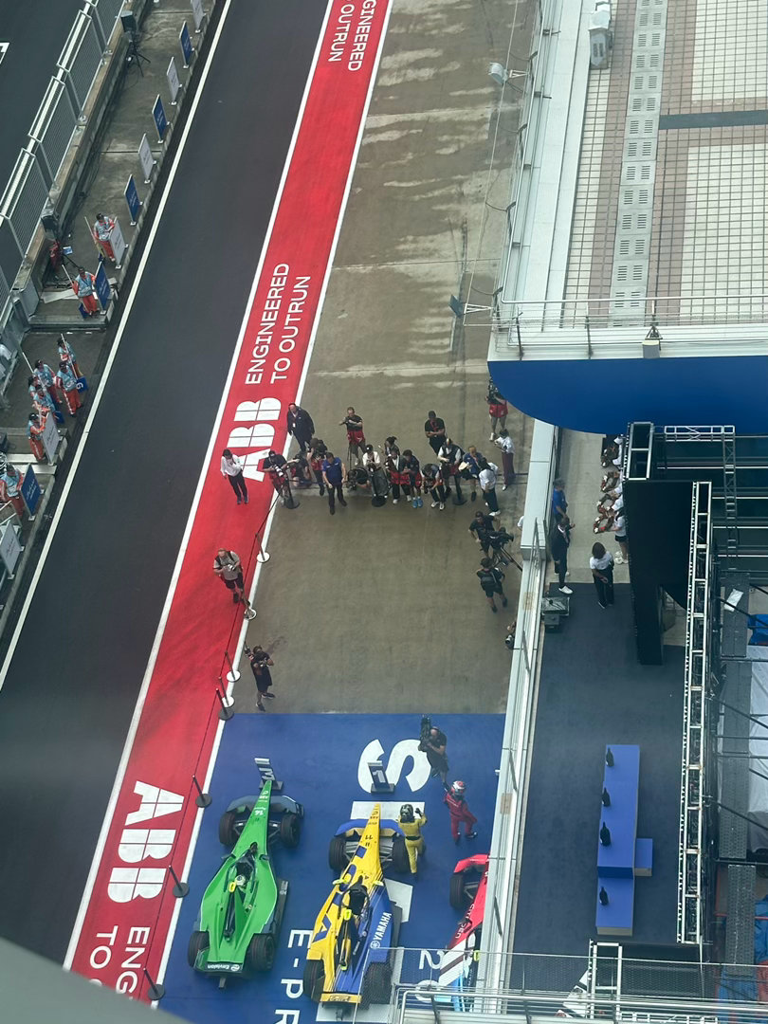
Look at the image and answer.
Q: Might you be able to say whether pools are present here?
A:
No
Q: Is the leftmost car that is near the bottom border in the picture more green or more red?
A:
green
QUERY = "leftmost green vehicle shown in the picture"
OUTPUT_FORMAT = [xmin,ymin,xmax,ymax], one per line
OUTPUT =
[185,779,305,995]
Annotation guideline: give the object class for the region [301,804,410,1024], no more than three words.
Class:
car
